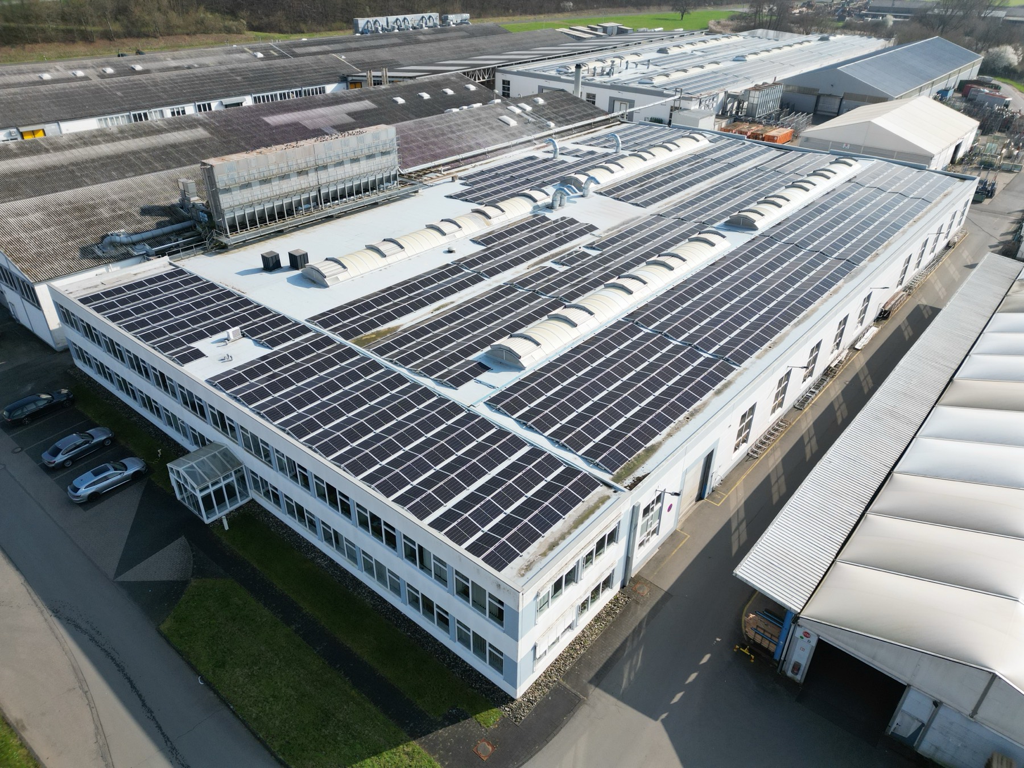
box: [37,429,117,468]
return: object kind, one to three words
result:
car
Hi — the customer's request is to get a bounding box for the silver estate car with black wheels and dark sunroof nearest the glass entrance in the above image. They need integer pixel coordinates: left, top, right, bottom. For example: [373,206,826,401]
[65,462,149,505]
